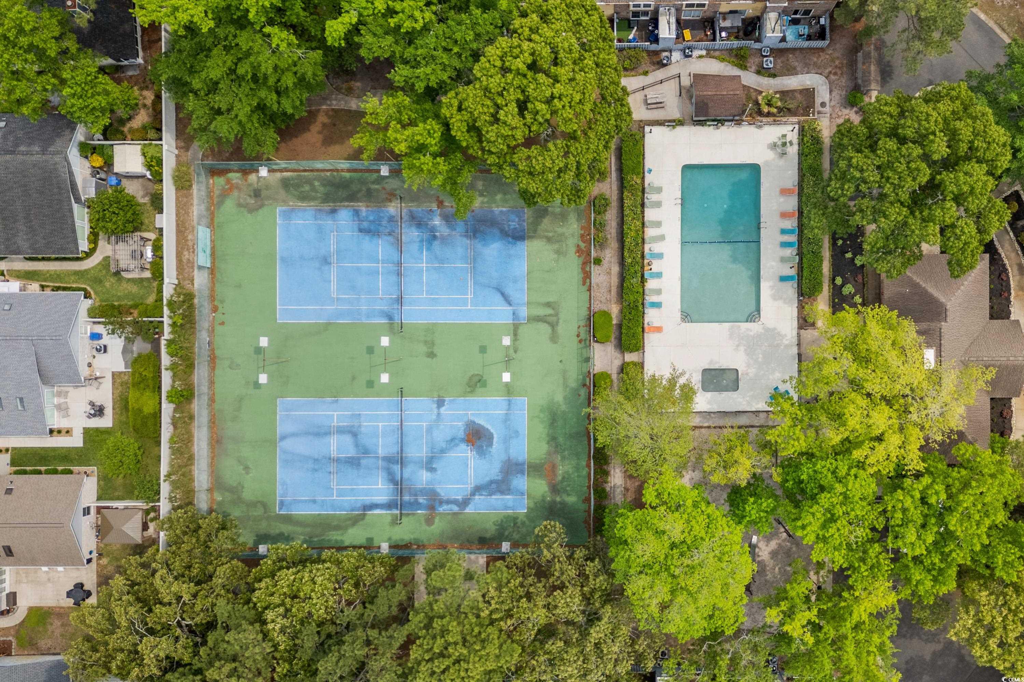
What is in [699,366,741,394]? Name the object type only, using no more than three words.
swimming pool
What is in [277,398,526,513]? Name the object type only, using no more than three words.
tennis court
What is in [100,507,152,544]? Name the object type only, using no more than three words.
gazebo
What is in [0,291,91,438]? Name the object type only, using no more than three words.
house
